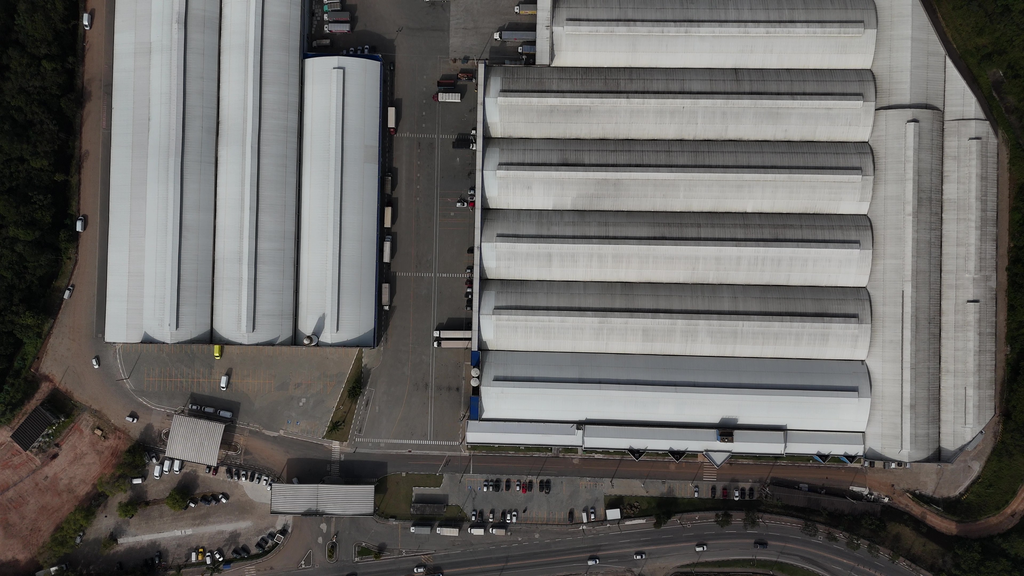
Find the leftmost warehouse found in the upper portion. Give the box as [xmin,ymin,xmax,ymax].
[105,0,222,345]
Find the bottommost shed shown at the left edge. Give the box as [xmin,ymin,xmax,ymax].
[10,405,61,454]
